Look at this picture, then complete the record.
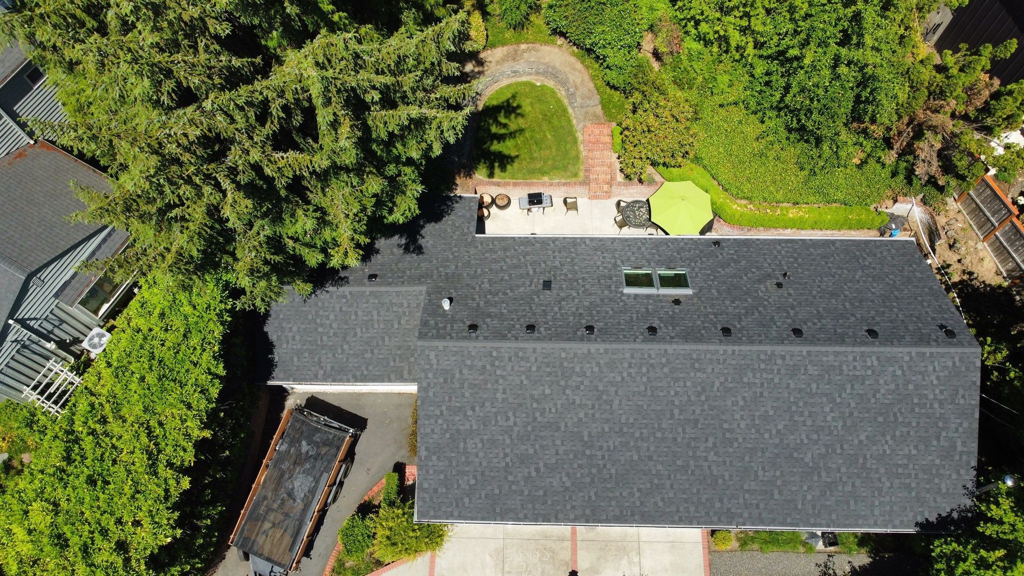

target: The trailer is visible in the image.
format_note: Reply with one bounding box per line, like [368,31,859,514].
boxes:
[229,404,360,576]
